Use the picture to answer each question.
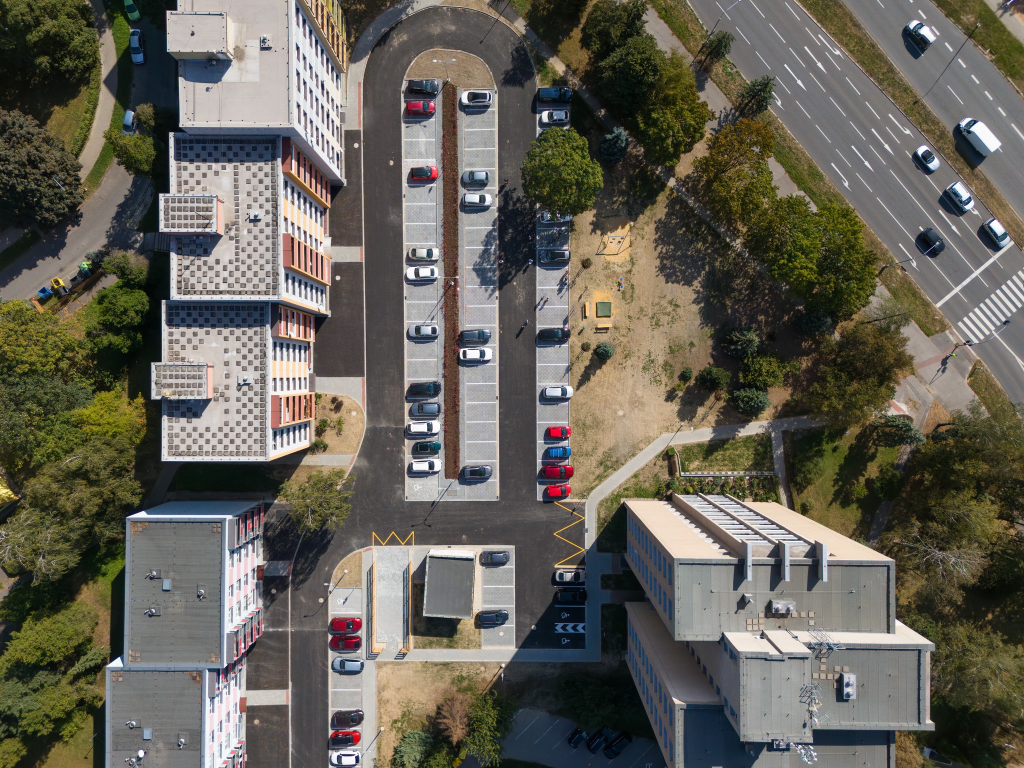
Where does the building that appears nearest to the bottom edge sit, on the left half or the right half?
left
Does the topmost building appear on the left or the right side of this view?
left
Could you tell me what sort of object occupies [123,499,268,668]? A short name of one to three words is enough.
building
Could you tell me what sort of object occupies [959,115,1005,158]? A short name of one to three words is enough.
van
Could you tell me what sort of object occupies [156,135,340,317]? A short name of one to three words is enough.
building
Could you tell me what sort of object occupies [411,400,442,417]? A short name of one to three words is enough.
car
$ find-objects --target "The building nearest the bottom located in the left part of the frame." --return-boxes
[102,650,248,768]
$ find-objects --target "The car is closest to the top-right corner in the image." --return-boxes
[904,18,938,51]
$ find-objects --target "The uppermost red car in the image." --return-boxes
[405,98,436,117]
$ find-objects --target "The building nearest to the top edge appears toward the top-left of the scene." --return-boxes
[166,0,354,186]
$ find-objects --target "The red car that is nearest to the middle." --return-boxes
[546,424,572,440]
